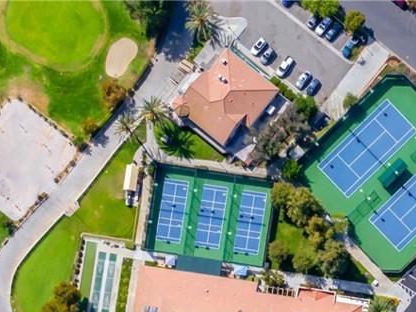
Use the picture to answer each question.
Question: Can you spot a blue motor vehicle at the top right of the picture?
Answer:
Yes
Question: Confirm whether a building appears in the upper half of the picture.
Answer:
Yes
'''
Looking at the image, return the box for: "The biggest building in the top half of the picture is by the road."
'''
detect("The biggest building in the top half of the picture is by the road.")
[173,48,279,147]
